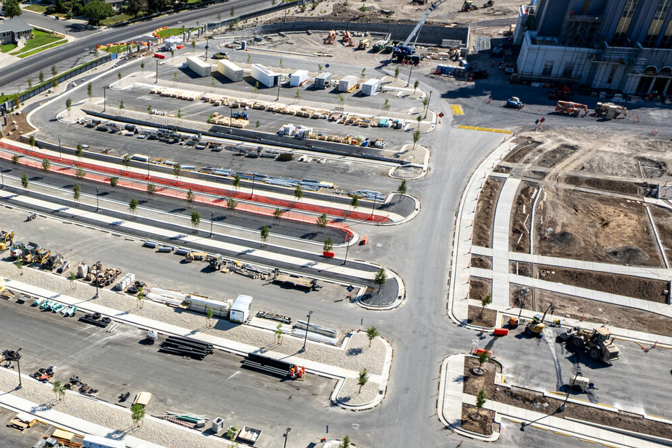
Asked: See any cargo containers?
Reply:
Yes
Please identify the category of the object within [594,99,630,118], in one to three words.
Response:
work vehicle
